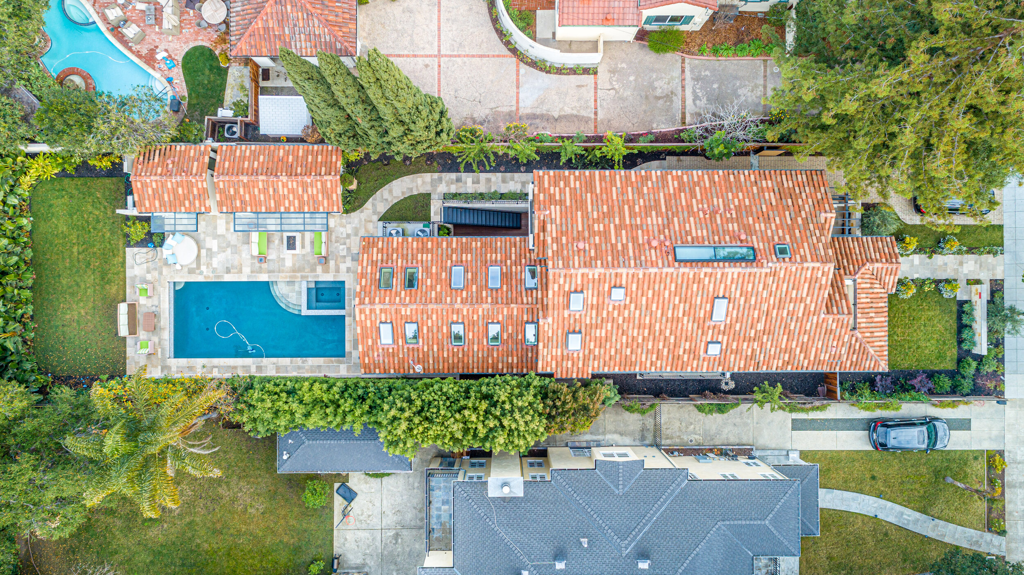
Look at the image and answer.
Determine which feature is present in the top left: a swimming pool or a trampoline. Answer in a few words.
swimming pool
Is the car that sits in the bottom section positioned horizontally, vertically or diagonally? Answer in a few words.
horizontally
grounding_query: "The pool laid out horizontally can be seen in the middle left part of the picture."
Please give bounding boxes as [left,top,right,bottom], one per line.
[164,275,351,365]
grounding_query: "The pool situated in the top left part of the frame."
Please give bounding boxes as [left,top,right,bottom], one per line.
[38,0,172,123]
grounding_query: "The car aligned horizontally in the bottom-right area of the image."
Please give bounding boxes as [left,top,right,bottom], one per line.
[867,416,948,455]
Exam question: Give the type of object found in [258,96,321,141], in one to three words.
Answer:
shed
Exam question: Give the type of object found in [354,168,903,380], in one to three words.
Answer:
house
